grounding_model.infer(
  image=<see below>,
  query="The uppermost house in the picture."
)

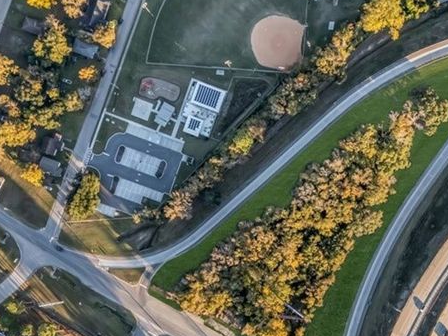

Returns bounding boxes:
[89,0,111,24]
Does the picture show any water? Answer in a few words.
No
